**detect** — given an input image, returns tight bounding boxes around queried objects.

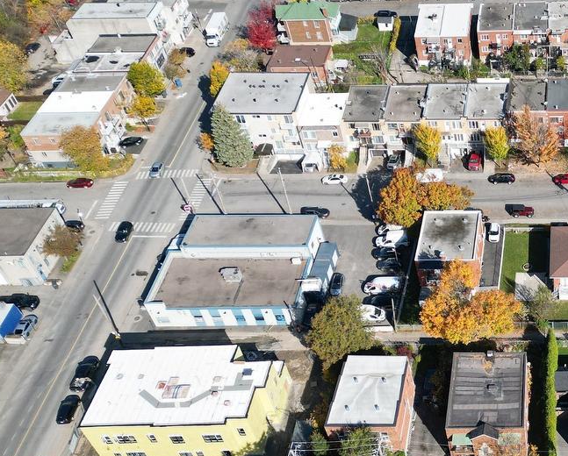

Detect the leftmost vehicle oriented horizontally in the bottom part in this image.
[0,292,42,309]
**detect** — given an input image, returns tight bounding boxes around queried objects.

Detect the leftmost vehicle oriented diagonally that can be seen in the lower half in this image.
[6,310,48,342]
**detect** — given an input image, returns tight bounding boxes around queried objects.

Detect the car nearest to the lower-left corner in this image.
[56,393,84,423]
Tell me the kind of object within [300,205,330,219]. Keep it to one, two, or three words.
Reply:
vehicle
